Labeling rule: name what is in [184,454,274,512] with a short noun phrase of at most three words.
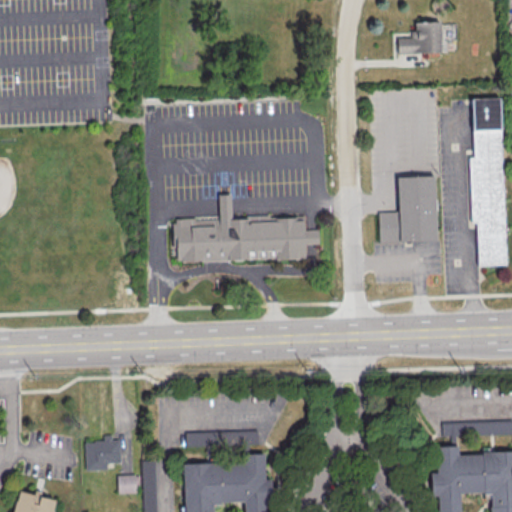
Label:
building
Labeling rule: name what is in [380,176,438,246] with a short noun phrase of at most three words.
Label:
building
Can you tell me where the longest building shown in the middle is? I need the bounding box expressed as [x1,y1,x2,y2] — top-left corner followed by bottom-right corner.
[175,190,320,264]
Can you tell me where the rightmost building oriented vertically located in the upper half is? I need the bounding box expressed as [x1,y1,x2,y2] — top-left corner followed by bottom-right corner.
[470,98,509,268]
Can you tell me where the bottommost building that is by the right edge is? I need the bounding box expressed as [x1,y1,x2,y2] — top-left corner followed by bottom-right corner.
[434,447,512,512]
